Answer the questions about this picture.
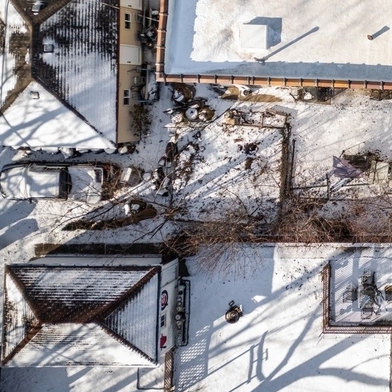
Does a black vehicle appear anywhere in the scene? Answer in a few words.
No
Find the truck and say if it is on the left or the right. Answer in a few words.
left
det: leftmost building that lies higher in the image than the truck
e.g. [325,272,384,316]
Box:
[0,0,142,150]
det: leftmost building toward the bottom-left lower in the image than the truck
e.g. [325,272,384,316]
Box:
[0,253,177,367]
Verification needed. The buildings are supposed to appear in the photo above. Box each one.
[0,0,142,150]
[157,0,392,92]
[0,253,177,367]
